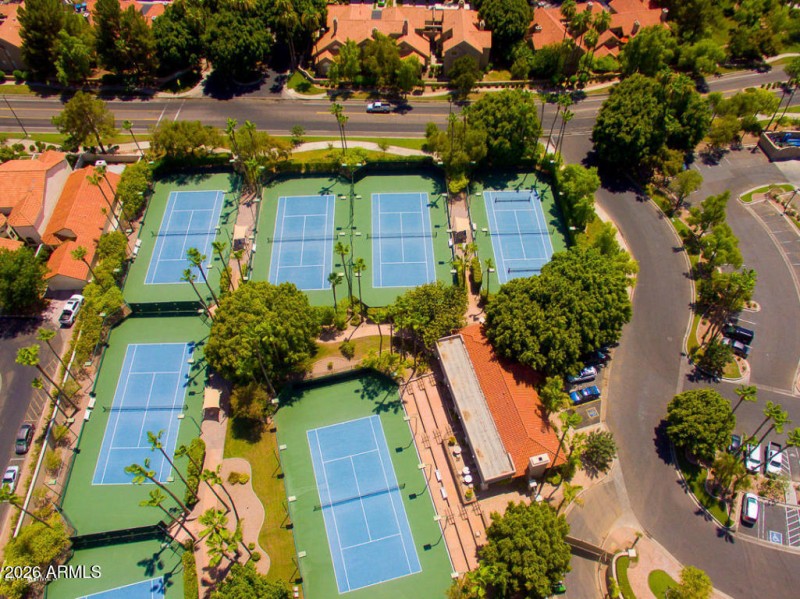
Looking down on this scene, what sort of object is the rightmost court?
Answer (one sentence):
What you see as the rightmost court is a tennis court.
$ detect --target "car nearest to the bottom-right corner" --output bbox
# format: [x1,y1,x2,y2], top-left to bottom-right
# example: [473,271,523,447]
[741,491,763,529]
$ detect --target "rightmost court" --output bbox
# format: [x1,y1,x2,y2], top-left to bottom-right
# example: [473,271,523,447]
[469,176,584,297]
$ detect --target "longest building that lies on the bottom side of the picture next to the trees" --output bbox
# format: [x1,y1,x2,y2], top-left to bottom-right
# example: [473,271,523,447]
[434,320,571,486]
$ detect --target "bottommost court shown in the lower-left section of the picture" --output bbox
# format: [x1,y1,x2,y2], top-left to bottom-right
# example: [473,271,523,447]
[46,537,179,599]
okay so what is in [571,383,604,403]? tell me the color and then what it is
blue car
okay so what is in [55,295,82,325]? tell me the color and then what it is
white truck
